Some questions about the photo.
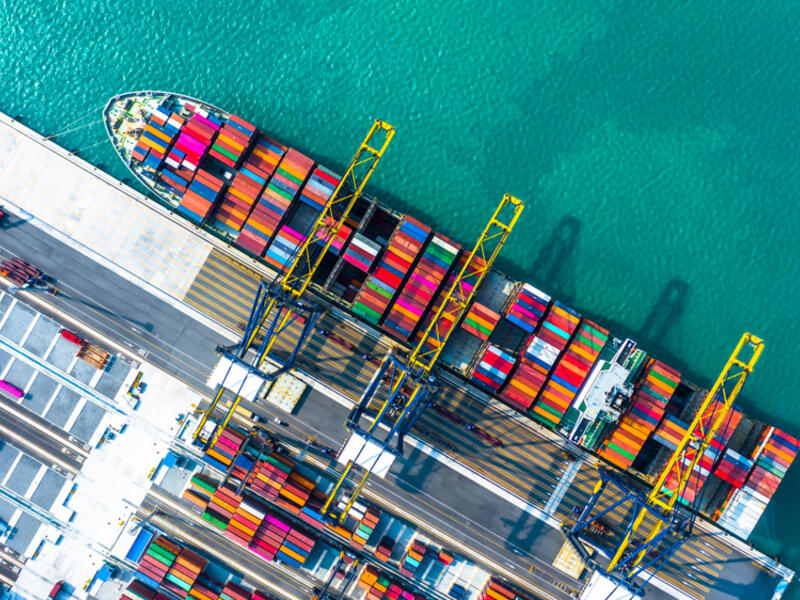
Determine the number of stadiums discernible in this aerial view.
0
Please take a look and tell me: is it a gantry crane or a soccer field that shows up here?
gantry crane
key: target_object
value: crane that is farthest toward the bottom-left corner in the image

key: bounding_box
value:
[220,428,274,495]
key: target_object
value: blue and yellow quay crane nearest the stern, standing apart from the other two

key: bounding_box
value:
[559,334,766,600]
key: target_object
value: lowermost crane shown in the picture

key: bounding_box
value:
[313,538,362,600]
